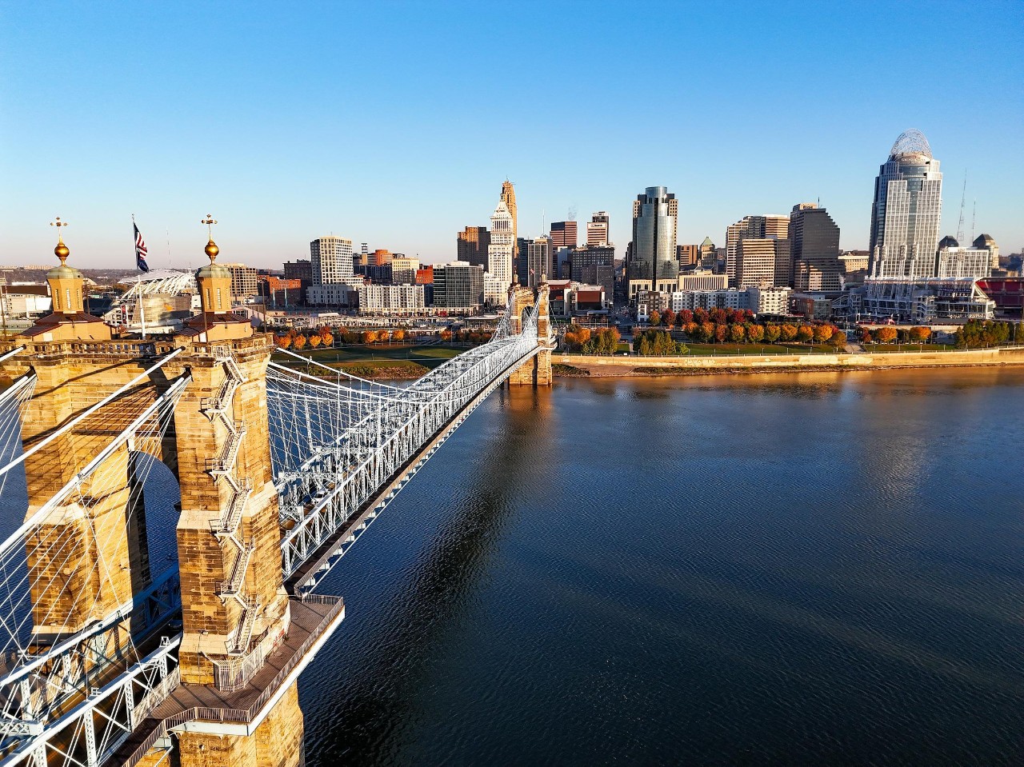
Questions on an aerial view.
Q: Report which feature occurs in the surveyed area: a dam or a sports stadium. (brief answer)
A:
sports stadium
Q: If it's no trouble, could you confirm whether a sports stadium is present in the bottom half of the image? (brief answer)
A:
No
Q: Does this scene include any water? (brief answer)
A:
Yes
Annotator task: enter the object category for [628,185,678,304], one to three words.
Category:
building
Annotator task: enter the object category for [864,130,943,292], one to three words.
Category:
building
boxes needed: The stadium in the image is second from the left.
[91,269,201,323]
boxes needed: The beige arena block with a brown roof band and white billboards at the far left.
[0,281,53,319]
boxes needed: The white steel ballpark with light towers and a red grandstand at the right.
[856,248,1024,330]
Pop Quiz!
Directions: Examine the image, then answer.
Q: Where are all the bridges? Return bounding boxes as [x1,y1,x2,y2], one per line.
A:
[0,213,556,767]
